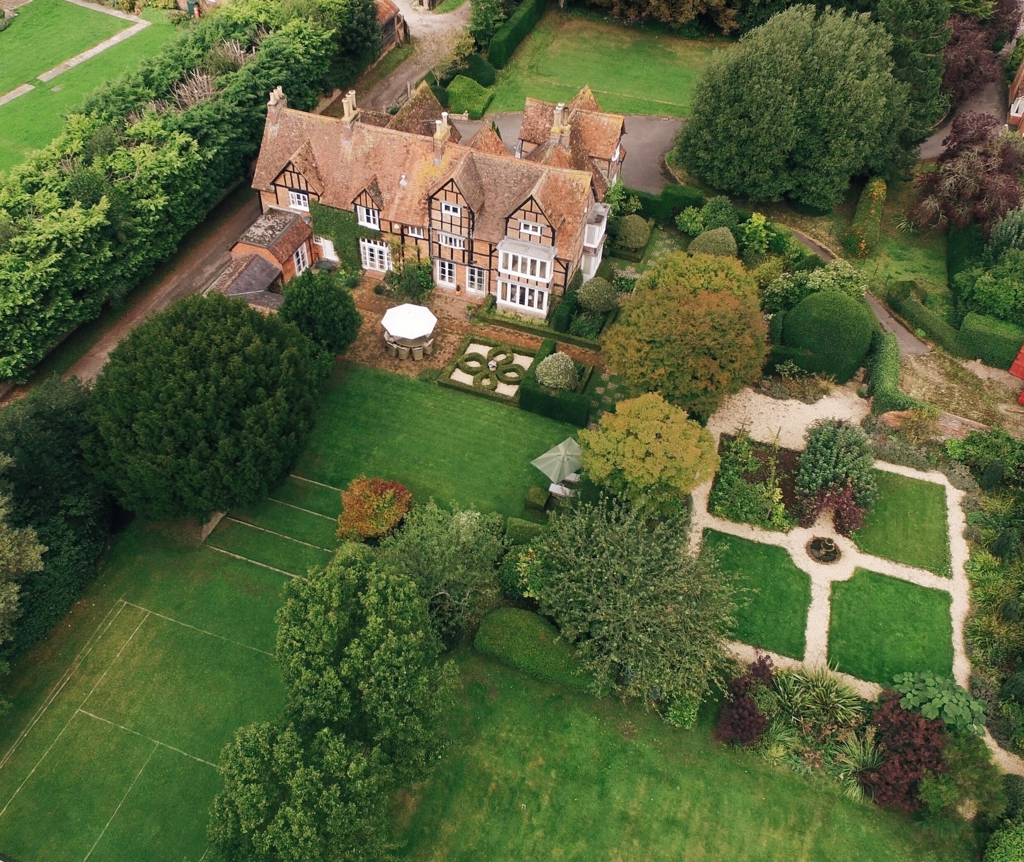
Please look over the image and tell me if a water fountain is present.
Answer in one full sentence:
Yes, you can see a water fountain in this photo.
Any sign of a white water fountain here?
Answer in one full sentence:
No, the scene contains no white water fountain.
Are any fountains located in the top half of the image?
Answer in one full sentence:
No, in the top half of the image there is no fountain.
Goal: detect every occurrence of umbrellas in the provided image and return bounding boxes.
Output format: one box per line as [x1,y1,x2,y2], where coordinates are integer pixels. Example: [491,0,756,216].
[531,436,585,484]
[380,297,438,334]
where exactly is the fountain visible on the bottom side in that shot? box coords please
[805,535,842,565]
